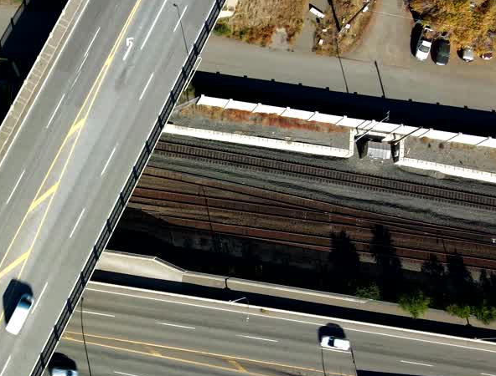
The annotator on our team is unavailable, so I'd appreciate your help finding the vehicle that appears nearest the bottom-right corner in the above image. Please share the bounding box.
[318,334,351,351]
